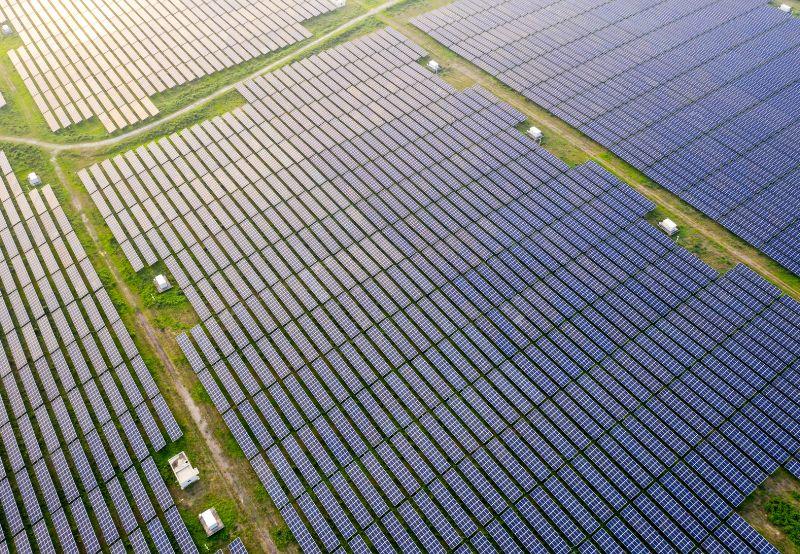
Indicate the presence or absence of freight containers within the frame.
No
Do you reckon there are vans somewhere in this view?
No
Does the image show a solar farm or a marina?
solar farm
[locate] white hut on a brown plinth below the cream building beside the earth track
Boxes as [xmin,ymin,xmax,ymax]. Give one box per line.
[195,506,225,538]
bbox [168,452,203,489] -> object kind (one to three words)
building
